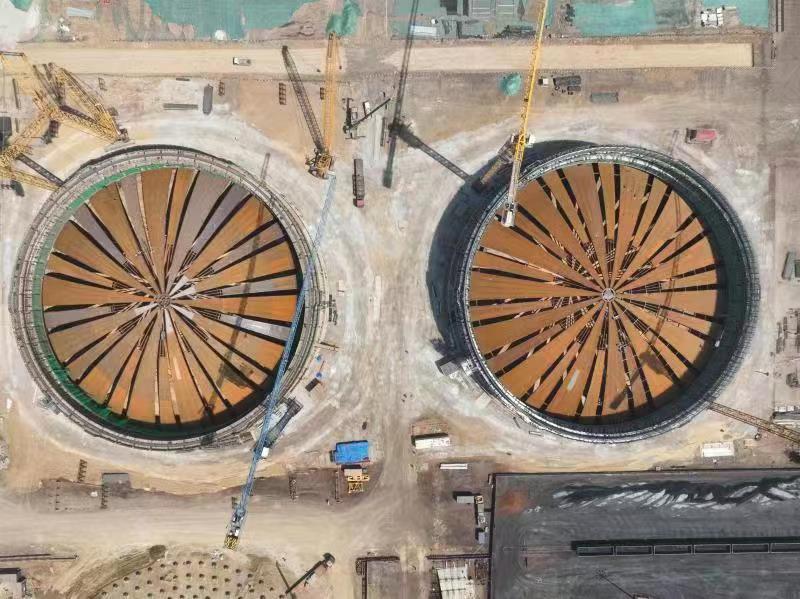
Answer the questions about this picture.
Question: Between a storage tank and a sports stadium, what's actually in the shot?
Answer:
storage tank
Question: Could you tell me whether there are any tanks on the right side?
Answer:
Yes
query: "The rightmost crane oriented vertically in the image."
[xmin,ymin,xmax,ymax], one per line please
[477,0,548,218]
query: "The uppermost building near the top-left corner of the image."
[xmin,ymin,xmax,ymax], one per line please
[68,8,100,21]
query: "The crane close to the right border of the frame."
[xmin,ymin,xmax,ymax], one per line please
[705,401,800,442]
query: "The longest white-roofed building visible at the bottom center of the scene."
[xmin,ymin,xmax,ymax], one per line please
[414,433,448,447]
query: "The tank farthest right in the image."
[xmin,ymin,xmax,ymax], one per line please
[448,141,762,450]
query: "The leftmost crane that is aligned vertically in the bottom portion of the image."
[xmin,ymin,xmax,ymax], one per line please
[227,176,331,544]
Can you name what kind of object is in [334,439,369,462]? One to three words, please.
shed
